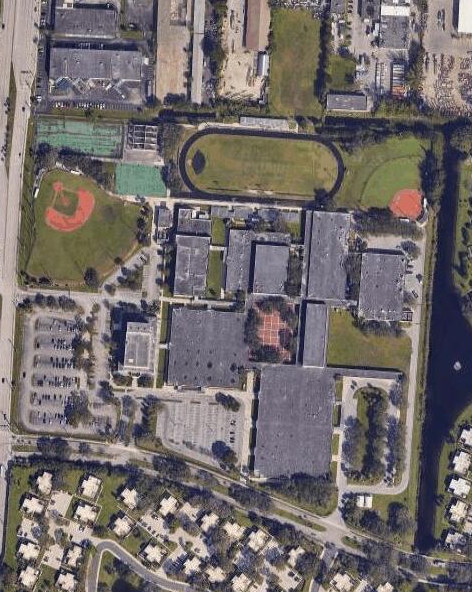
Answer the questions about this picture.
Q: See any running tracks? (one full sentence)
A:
Yes, I can see a running track in this picture.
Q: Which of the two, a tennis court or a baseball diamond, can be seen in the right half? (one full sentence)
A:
The feature located in the right half is a baseball diamond.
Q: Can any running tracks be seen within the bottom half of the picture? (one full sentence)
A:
No, no running track appears within the bottom half of the picture.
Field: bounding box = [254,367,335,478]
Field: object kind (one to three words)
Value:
building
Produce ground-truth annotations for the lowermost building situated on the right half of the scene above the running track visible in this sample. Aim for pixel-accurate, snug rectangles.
[327,95,367,111]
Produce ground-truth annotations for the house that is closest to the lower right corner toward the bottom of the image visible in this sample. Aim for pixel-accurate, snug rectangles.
[445,529,468,550]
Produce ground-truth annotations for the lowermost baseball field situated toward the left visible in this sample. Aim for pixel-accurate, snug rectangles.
[26,165,142,282]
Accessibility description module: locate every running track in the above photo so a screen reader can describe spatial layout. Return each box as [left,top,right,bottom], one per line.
[179,128,345,202]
